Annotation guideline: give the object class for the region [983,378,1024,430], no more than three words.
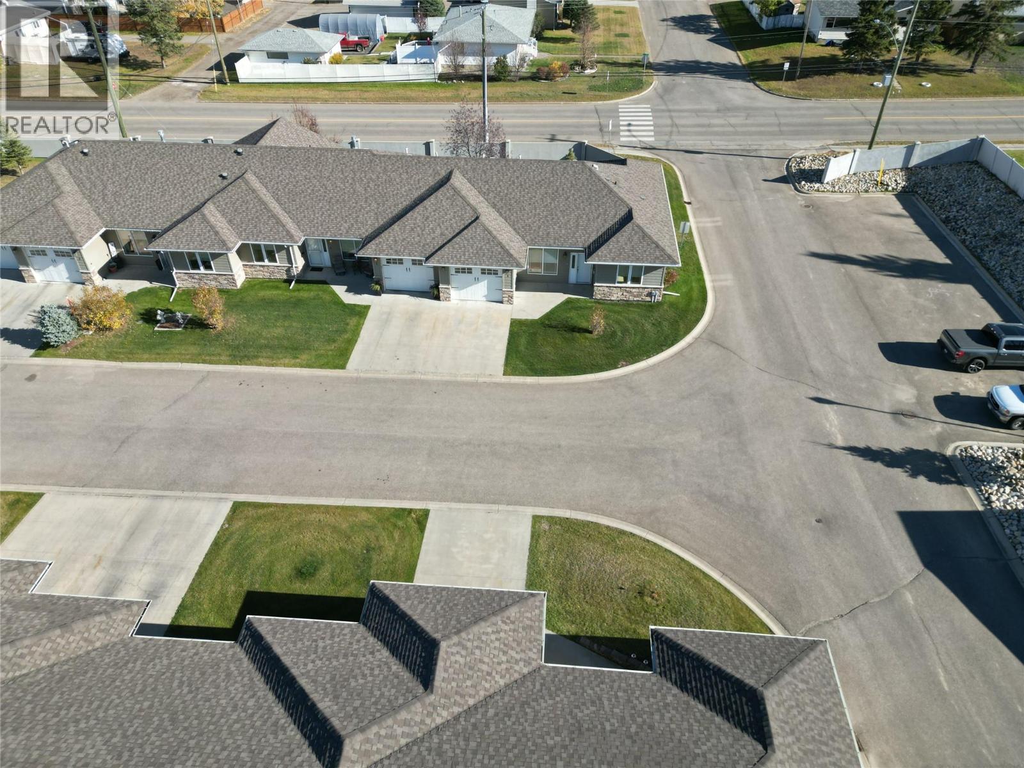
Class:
truck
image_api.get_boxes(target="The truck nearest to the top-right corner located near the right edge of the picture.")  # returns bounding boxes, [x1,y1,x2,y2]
[936,318,1024,371]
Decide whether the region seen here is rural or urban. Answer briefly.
urban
